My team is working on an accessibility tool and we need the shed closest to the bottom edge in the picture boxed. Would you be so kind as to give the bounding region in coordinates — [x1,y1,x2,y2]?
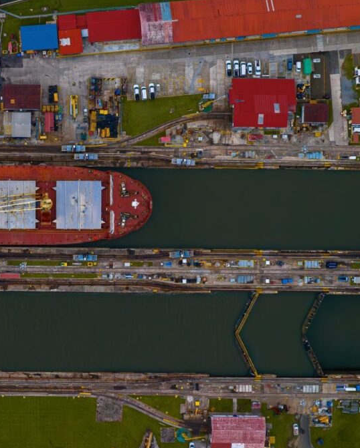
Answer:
[209,414,267,448]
